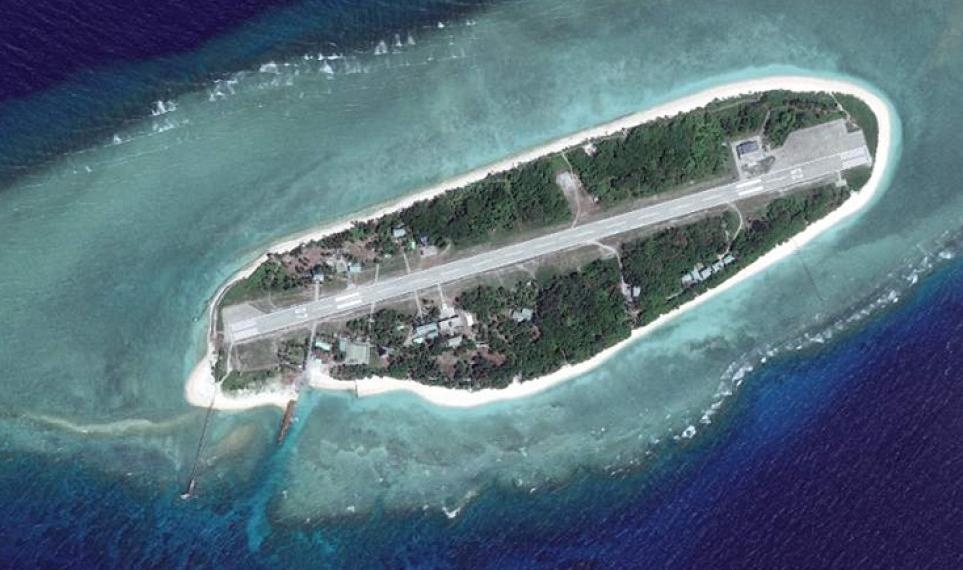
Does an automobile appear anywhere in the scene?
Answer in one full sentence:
No, I can see no automobile in this picture.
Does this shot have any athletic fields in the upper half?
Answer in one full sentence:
No, no athletic field appears in the upper half.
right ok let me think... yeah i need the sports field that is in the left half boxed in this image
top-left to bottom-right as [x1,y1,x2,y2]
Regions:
[241,337,277,369]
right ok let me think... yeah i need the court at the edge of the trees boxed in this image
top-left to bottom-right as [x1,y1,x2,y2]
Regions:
[346,343,370,364]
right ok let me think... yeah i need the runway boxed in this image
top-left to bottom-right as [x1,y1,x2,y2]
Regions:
[229,146,869,340]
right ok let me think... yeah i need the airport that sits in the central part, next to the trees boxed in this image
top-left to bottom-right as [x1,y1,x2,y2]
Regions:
[223,119,872,345]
